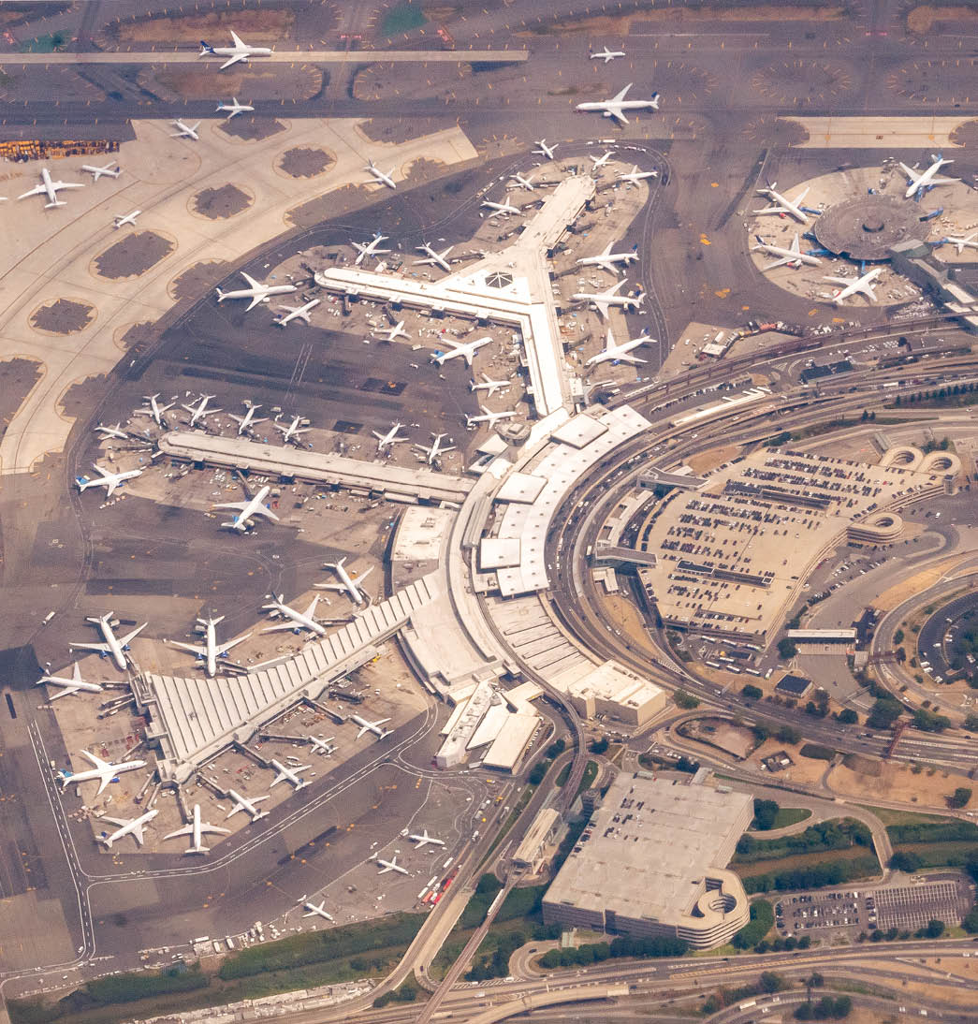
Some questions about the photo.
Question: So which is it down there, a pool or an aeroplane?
aeroplane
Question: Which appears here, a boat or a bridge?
bridge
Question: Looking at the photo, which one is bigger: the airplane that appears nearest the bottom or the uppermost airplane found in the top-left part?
the uppermost airplane found in the top-left part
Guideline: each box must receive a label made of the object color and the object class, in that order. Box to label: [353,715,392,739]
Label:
white airplane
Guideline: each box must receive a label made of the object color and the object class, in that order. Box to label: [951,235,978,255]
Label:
white airplane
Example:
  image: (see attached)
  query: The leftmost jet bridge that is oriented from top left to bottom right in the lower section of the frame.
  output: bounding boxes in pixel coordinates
[122,652,139,673]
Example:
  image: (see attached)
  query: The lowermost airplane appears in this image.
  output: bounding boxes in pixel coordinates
[303,896,332,920]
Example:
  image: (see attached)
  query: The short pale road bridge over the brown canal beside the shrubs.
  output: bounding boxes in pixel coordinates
[863,825,897,877]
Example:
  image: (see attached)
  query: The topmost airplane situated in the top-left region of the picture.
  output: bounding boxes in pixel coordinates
[201,32,272,69]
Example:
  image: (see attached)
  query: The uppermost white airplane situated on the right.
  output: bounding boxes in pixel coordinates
[588,44,625,64]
